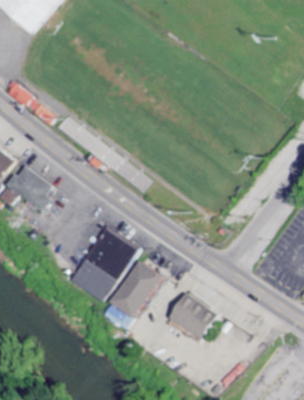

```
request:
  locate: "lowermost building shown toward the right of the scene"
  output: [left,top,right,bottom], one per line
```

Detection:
[170,294,216,342]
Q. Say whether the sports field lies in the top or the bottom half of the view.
top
